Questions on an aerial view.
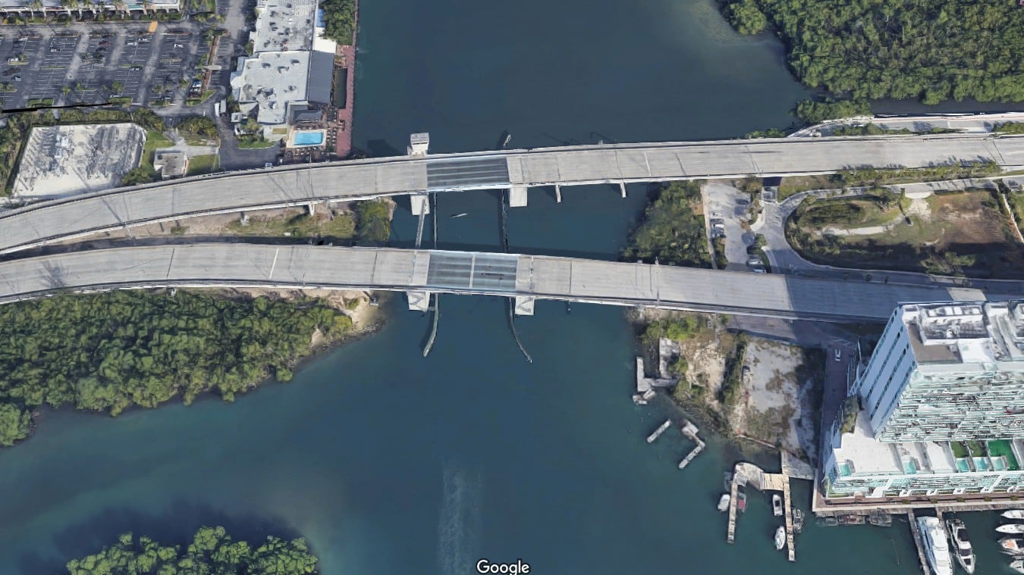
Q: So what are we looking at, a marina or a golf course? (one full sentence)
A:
The area seen from above is a marina.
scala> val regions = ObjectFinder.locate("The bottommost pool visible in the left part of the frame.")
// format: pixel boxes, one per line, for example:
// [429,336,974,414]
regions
[285,127,327,150]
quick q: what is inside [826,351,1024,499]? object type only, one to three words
building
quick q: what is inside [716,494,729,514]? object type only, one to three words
boat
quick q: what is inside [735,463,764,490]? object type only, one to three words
pier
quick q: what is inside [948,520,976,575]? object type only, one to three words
boat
